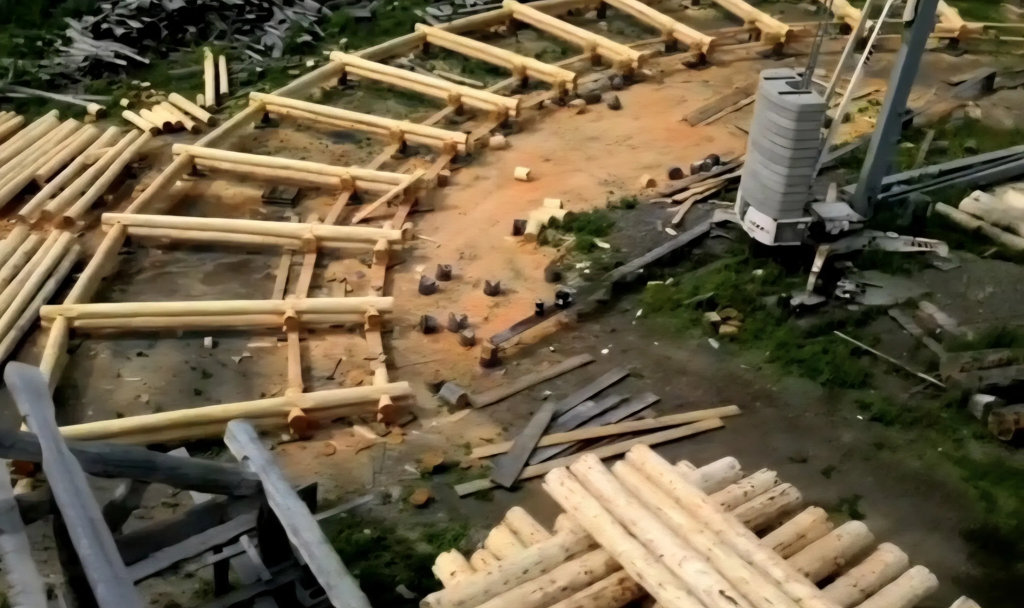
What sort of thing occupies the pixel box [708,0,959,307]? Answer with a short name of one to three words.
crane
